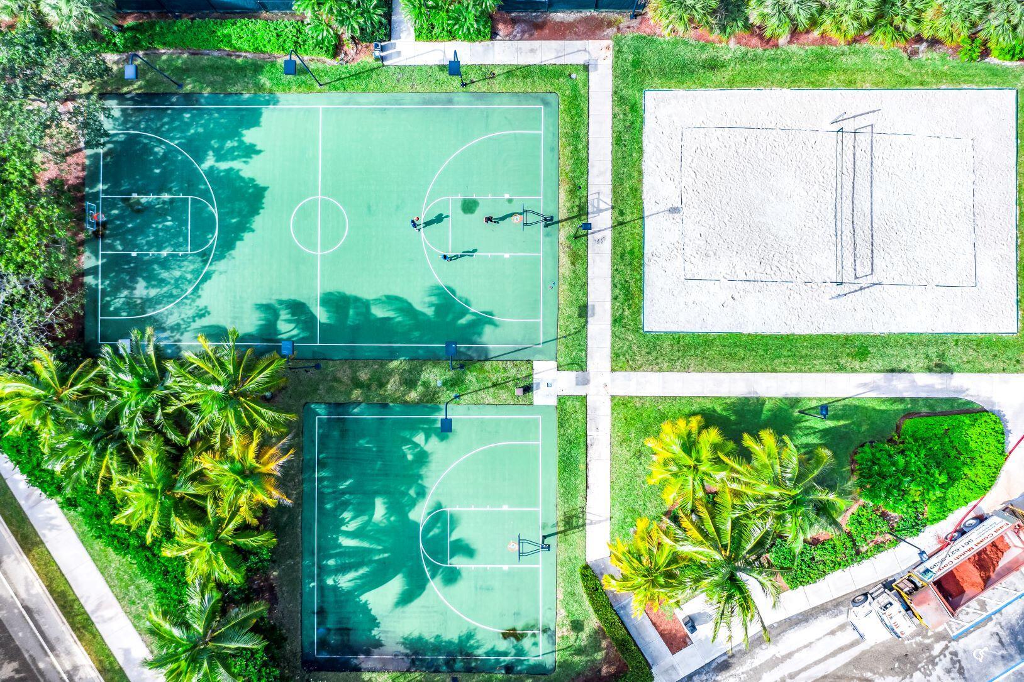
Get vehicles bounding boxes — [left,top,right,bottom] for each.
[840,504,1024,644]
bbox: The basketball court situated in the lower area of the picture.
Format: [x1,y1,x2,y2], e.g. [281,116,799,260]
[301,401,558,679]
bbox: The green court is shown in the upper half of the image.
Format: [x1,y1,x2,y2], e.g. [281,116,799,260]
[84,92,560,364]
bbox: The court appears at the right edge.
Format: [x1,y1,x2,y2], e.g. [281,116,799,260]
[642,88,1019,334]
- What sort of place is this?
sports ground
